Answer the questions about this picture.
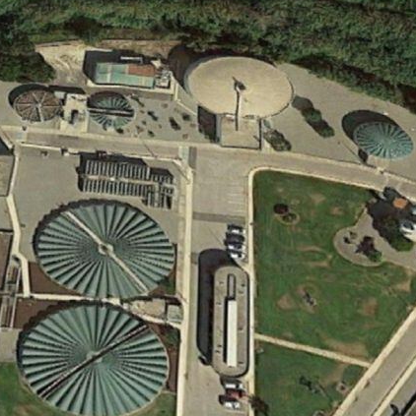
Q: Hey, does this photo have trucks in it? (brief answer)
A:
No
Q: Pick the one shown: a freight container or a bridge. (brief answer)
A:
bridge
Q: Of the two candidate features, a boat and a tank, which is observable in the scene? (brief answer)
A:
tank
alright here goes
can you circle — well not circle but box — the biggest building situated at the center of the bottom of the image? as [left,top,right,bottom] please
[210,264,249,385]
